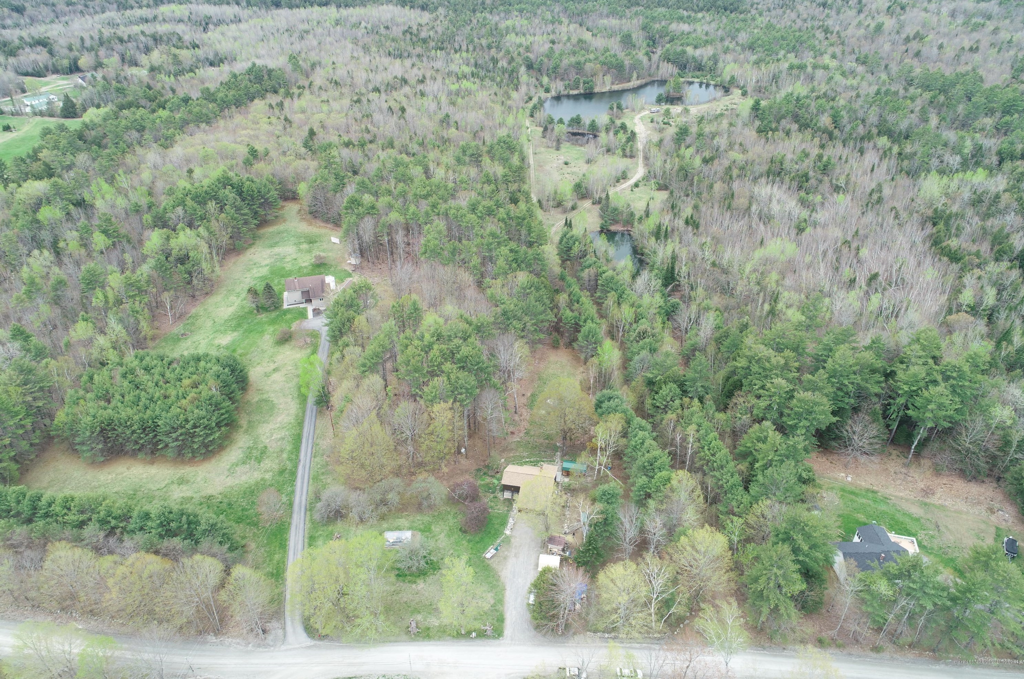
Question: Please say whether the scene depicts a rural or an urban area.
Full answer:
The land in this view is best described as rural.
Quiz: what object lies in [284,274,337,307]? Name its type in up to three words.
house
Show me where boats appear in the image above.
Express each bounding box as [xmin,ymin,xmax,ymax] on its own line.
[1006,536,1018,557]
